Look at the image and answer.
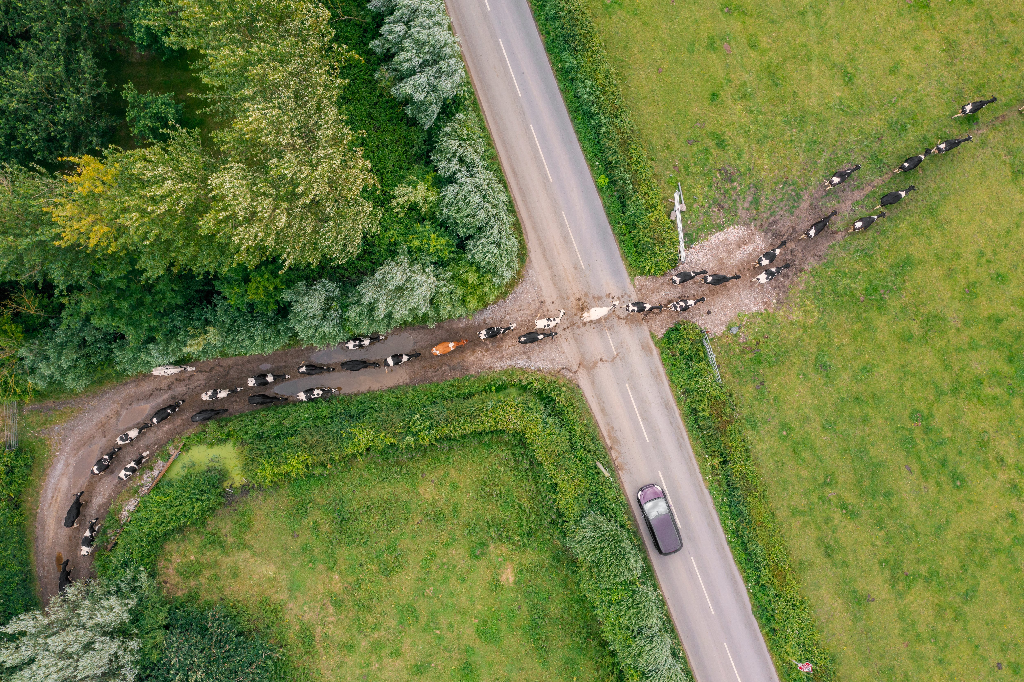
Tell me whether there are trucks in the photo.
No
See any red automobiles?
No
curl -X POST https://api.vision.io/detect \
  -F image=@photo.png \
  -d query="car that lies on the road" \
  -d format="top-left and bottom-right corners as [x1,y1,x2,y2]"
[638,483,685,558]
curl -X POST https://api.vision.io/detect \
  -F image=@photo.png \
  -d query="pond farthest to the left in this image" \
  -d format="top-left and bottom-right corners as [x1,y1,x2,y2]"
[156,440,251,494]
